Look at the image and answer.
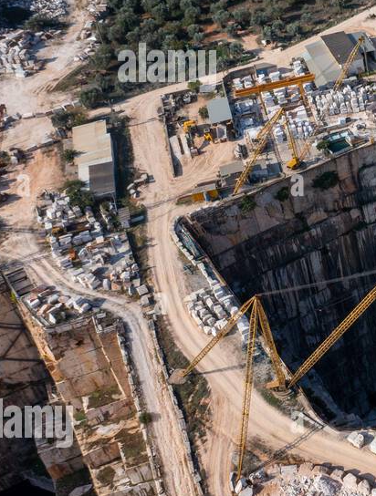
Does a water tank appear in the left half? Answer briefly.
No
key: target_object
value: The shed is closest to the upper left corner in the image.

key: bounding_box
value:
[73,118,115,178]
